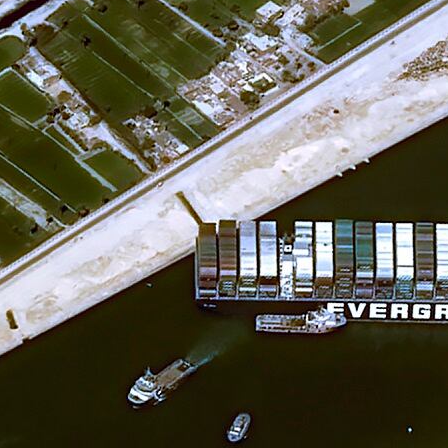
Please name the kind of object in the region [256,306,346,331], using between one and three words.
vessel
